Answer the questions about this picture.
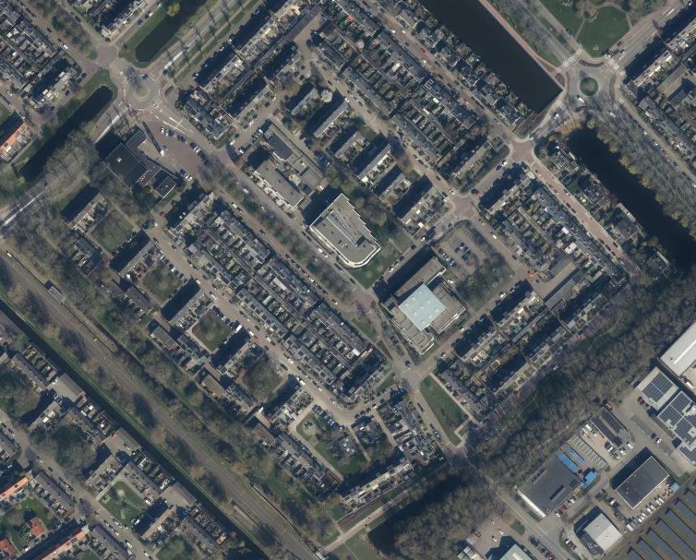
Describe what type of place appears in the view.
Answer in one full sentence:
The area seen from above is a residential area.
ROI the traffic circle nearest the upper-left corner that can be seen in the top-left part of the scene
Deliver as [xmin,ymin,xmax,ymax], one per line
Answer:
[120,70,162,112]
